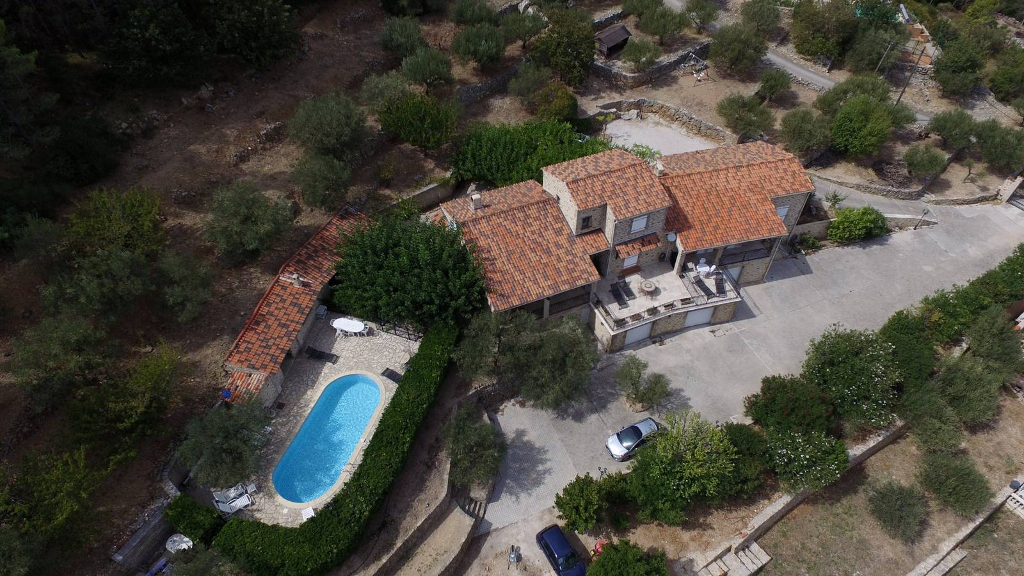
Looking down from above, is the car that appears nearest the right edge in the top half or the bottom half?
bottom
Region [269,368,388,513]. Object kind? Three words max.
swimming pool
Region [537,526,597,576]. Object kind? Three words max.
car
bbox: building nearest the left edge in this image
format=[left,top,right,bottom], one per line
[222,205,387,425]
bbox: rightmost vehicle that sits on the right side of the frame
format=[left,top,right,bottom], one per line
[605,411,669,460]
